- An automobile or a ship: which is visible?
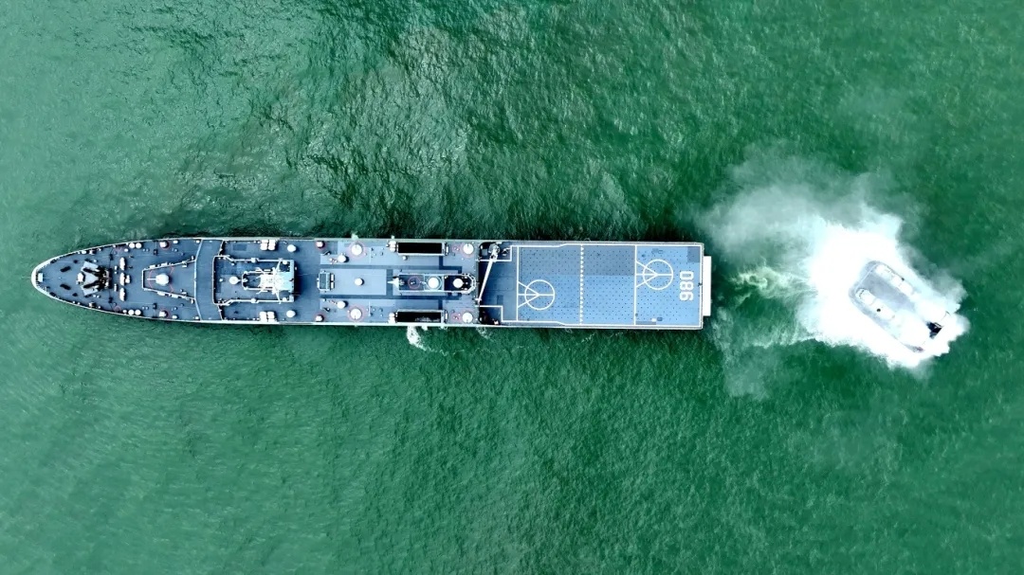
ship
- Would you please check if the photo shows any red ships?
No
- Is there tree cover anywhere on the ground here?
No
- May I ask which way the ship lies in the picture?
from left to right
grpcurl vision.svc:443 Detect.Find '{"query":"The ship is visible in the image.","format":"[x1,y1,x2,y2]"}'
[23,235,711,331]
